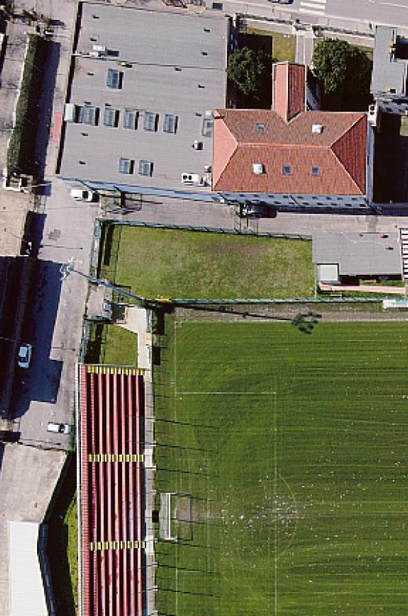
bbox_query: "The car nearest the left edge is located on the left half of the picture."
[17,344,34,369]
